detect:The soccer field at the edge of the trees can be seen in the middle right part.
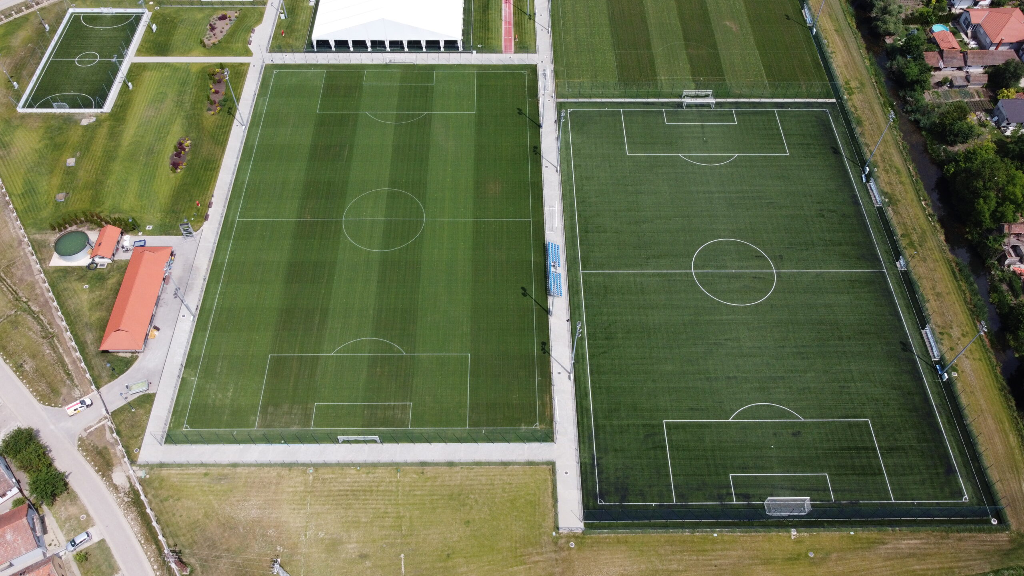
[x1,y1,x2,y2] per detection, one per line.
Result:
[557,101,991,519]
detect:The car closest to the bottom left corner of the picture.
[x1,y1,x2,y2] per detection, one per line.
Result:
[63,532,91,552]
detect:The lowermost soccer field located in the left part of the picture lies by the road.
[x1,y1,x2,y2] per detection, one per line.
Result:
[164,63,553,444]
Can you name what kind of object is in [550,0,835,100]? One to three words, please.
soccer field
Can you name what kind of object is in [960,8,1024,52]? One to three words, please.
house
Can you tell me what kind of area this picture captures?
sports ground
